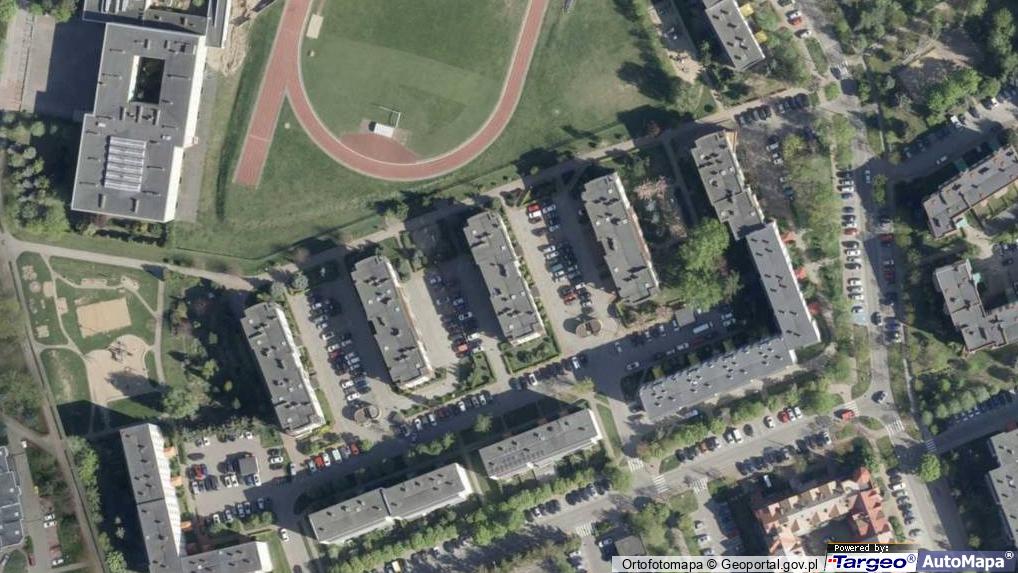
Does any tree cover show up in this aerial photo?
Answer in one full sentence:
Yes, tree cover shows up in the scene.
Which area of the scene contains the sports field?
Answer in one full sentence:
The sports field appears toward the top of the photo.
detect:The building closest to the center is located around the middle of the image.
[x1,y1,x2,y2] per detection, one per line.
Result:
[463,210,546,343]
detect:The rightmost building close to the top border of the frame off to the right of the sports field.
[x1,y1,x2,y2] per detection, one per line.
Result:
[702,0,766,76]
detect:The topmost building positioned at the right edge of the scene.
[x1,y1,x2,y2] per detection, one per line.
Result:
[923,145,1018,245]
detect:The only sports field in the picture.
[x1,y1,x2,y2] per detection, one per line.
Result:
[301,0,532,161]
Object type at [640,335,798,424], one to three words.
building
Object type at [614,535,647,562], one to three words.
shed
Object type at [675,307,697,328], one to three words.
shed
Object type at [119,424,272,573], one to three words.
building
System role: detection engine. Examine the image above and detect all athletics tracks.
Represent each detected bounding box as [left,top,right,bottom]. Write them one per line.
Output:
[234,0,553,188]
